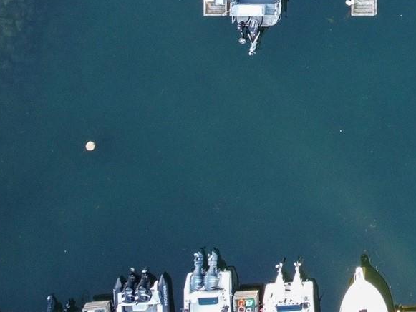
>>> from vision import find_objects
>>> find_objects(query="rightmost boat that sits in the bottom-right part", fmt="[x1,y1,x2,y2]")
[340,266,388,312]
